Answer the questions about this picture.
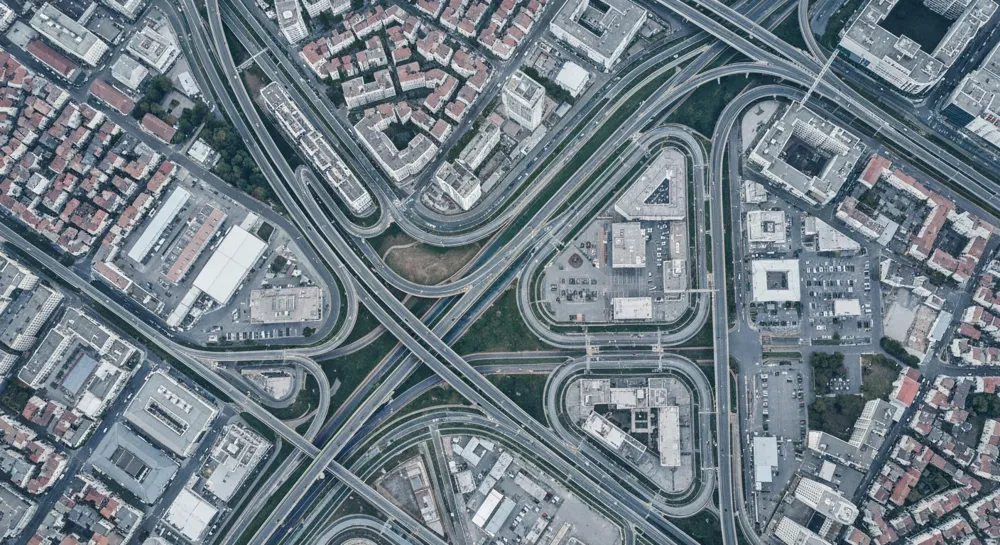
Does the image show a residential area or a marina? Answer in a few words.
residential area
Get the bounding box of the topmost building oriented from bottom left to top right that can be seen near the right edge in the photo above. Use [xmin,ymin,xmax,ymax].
[942,34,1000,121]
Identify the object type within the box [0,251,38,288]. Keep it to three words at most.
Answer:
building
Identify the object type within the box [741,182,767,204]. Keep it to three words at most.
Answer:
house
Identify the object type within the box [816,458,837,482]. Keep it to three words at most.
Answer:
shed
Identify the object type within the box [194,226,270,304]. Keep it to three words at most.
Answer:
building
